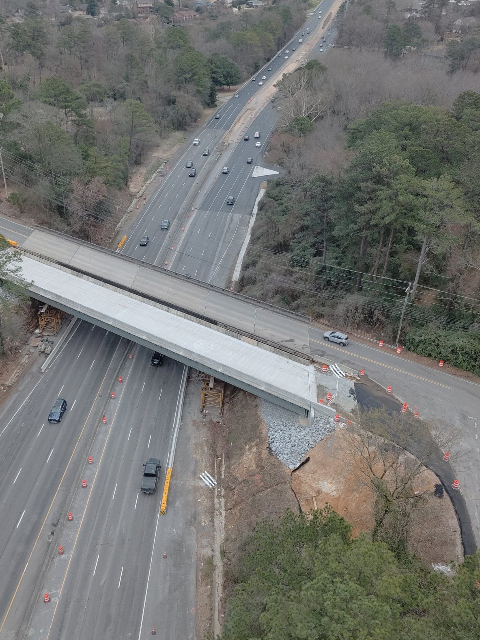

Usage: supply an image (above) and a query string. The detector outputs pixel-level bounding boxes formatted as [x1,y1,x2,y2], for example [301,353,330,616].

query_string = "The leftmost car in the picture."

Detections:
[48,397,66,421]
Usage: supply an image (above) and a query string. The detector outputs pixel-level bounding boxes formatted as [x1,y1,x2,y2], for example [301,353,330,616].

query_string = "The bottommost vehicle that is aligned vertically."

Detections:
[141,458,160,492]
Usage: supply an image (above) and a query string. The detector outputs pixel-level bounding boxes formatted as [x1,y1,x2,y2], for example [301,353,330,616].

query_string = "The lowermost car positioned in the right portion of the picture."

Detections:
[323,331,351,346]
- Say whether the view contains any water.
No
